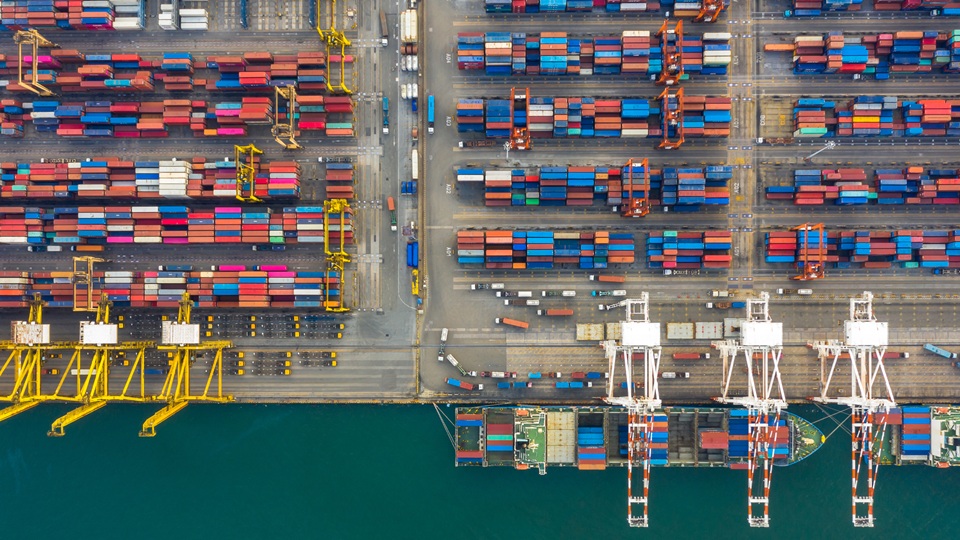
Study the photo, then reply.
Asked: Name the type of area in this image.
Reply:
port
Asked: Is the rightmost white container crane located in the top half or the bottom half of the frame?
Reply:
bottom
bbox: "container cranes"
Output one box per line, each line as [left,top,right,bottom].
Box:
[69,255,112,312]
[233,142,267,202]
[322,197,353,256]
[652,19,685,85]
[14,29,59,96]
[788,222,826,280]
[707,289,786,530]
[506,85,533,149]
[654,85,686,149]
[619,156,650,217]
[802,289,896,530]
[689,0,723,22]
[0,289,100,429]
[43,289,161,442]
[322,255,353,312]
[323,27,354,94]
[273,84,305,149]
[597,289,659,530]
[135,289,236,442]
